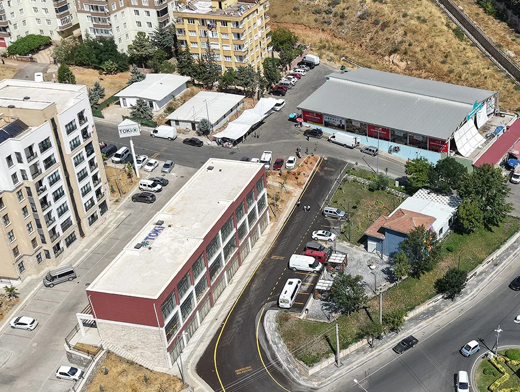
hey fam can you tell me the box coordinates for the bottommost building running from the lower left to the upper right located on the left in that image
[51,158,272,377]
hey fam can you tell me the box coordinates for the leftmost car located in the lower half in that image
[8,317,40,332]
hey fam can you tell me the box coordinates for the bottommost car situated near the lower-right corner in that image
[455,368,471,392]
